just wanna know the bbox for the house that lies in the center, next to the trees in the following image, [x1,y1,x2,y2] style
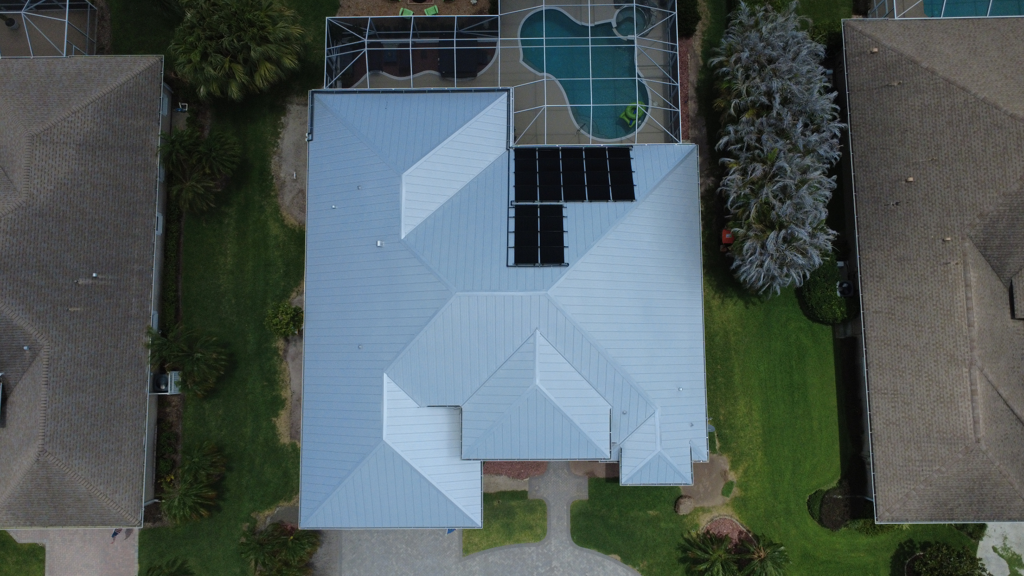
[299,88,709,530]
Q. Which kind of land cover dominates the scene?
buildings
